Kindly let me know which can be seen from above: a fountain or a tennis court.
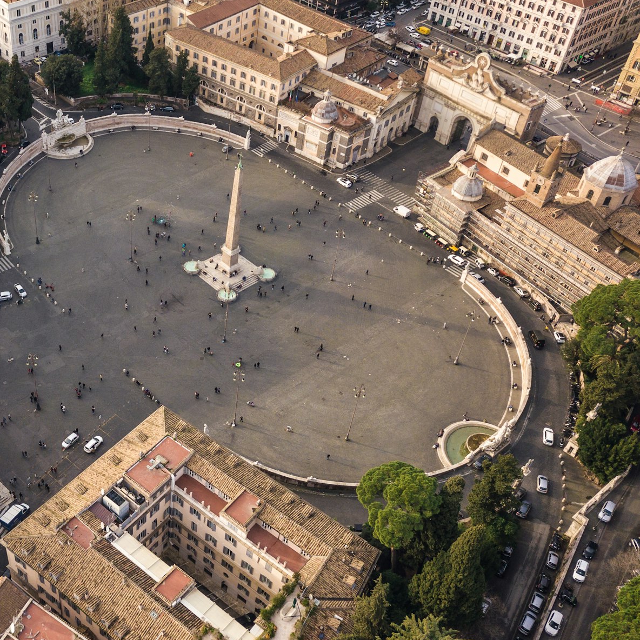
fountain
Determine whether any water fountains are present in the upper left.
Yes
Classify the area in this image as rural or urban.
urban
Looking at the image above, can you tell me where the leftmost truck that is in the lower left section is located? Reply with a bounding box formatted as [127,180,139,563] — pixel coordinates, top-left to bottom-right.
[0,498,29,529]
